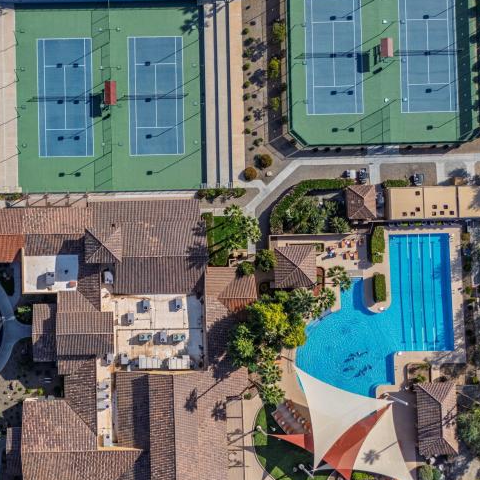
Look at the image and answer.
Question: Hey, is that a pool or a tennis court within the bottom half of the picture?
pool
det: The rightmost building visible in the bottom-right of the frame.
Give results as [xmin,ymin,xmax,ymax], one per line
[409,382,459,457]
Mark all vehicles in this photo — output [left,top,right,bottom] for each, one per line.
[410,173,421,186]
[356,168,367,181]
[346,167,356,180]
